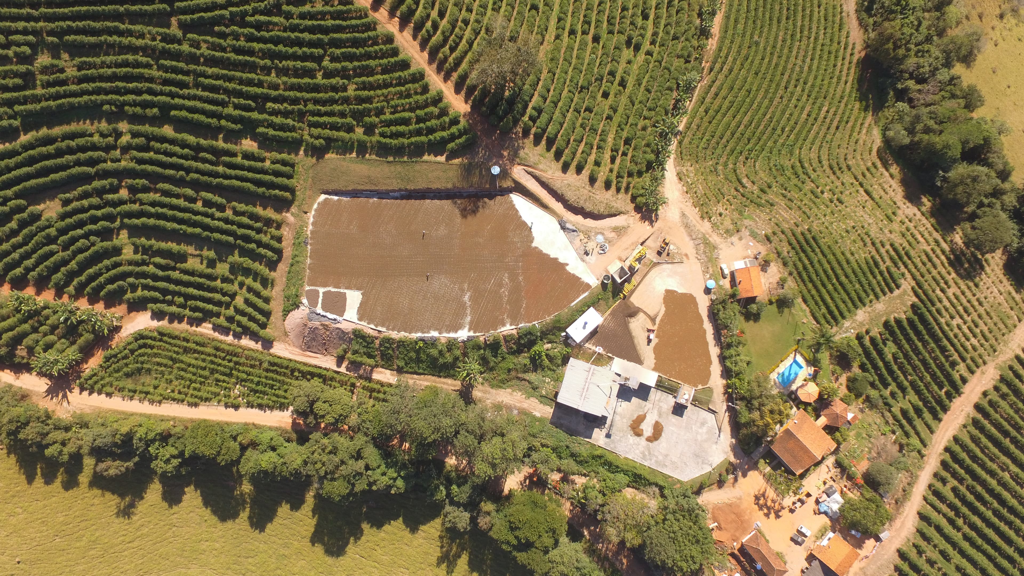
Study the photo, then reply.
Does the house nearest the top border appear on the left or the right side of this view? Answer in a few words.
right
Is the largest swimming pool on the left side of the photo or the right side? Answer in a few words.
right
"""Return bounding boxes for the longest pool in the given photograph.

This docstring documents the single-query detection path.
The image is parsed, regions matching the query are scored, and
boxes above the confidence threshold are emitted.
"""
[773,355,807,391]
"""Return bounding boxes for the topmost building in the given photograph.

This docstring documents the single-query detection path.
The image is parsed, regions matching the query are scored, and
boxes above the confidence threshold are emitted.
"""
[732,259,764,299]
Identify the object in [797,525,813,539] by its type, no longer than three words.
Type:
vehicle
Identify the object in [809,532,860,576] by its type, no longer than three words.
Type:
building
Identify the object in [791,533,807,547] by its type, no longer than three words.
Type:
vehicle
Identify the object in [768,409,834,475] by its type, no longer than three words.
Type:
house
